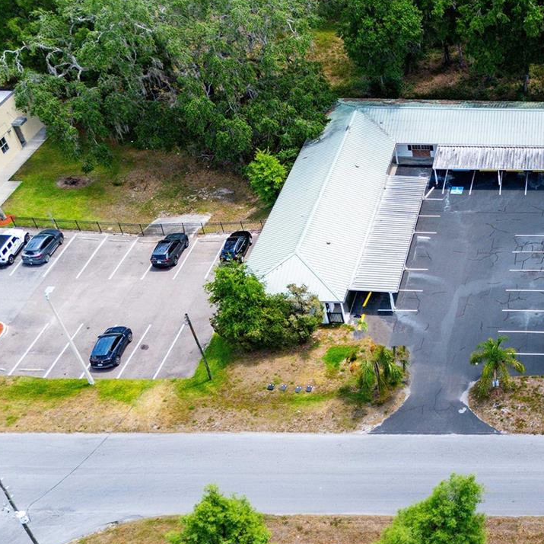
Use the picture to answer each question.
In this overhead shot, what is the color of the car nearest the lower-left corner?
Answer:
blue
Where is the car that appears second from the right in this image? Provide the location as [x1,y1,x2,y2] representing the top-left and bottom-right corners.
[151,230,190,263]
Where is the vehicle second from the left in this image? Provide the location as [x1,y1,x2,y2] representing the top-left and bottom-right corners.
[23,227,67,261]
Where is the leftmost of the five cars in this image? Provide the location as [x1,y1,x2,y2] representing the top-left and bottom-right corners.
[0,229,35,263]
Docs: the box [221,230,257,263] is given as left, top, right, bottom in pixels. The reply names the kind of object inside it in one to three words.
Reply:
car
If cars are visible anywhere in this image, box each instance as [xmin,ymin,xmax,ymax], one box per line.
[23,227,67,261]
[221,230,257,263]
[92,320,139,364]
[151,230,190,263]
[0,229,35,263]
